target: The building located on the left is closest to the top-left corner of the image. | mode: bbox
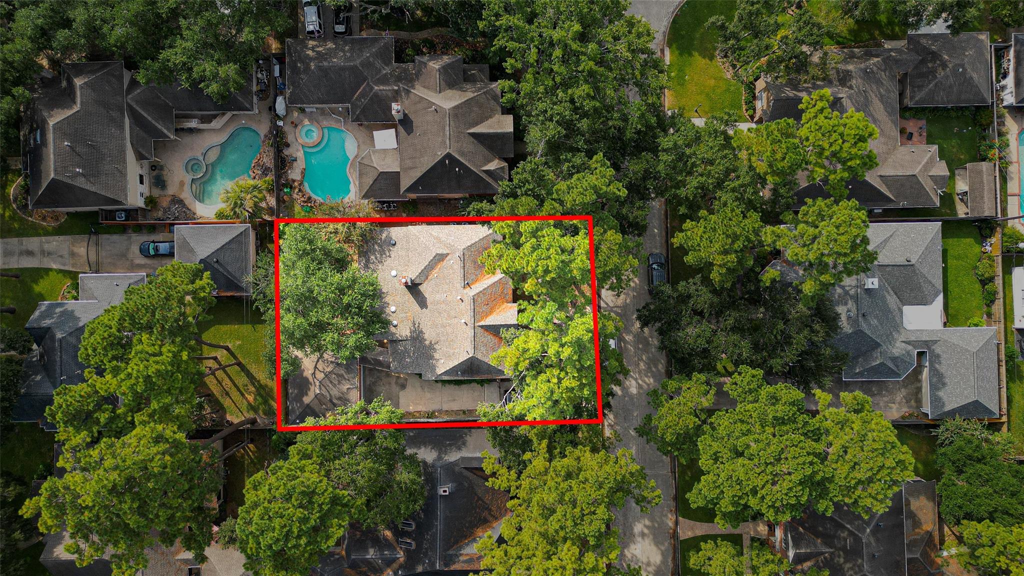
[24,60,153,210]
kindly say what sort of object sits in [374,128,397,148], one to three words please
umbrella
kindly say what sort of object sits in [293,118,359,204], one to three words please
swimming pool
